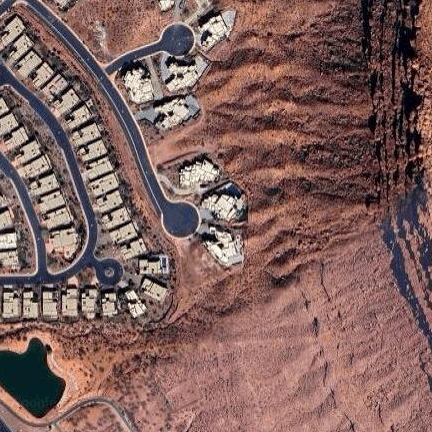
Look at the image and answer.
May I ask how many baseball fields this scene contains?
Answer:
0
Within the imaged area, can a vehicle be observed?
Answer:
No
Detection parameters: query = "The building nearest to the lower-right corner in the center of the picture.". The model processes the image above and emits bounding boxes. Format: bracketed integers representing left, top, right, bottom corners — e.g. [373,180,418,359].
[197,223,248,272]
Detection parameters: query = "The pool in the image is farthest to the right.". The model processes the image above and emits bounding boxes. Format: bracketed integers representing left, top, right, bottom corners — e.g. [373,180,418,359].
[211,181,241,195]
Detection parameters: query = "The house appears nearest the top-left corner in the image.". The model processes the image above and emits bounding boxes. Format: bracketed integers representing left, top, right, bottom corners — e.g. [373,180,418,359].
[0,17,27,45]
